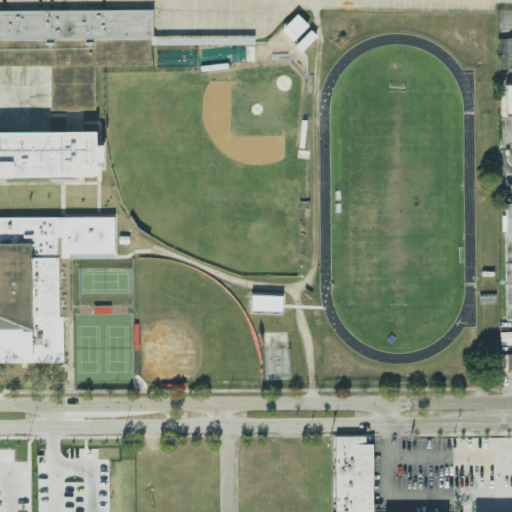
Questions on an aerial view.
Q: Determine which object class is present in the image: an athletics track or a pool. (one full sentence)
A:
The image shows an athletics track.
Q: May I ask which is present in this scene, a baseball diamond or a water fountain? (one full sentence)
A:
It is a baseball diamond that can be seen here.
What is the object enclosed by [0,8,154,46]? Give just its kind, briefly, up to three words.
building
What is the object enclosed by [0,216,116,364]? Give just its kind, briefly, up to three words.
building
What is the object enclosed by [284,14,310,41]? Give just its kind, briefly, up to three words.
shed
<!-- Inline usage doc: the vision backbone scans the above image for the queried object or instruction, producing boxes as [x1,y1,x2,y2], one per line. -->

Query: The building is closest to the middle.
[252,295,284,314]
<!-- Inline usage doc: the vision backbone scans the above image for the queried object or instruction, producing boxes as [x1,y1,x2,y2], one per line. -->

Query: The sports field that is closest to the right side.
[332,45,464,352]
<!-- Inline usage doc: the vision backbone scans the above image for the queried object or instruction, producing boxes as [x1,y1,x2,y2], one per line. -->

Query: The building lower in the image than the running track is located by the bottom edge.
[332,437,374,512]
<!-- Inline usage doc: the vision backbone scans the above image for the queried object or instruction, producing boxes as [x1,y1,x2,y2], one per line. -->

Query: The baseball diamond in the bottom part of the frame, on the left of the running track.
[134,258,262,389]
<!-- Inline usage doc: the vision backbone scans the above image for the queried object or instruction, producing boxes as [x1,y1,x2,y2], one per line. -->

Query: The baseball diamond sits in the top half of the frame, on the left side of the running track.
[106,66,302,276]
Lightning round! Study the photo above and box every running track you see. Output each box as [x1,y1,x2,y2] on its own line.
[320,34,476,364]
